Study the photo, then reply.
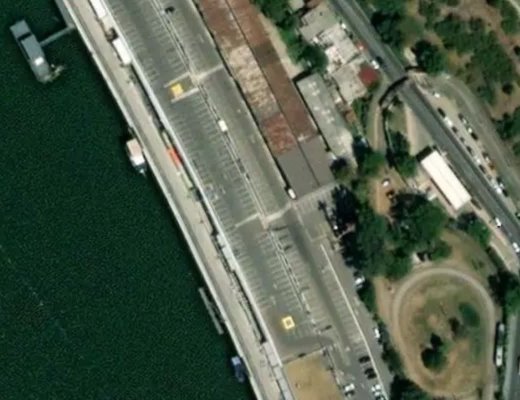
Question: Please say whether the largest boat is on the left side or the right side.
left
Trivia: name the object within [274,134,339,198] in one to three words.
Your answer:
building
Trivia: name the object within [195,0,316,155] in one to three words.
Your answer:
warehouse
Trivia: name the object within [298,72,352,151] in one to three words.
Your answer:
building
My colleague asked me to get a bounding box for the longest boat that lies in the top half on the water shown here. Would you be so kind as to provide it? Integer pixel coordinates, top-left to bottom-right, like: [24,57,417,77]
[124,138,146,173]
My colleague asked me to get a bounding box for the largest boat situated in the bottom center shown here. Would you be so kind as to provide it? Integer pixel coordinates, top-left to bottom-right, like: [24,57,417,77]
[231,355,244,382]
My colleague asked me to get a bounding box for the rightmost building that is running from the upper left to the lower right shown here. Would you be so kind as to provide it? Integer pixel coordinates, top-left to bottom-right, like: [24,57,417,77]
[421,151,472,209]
